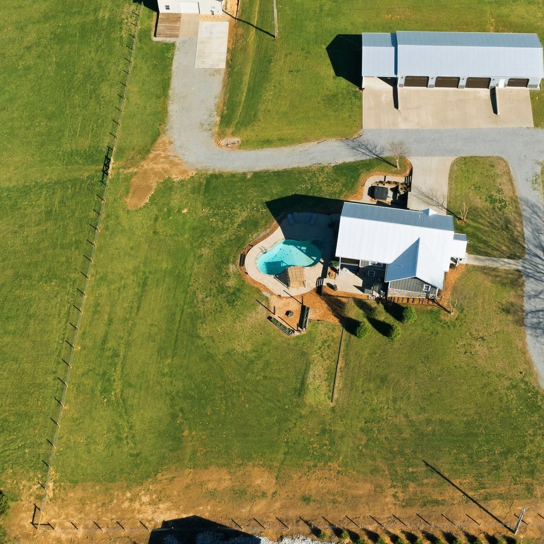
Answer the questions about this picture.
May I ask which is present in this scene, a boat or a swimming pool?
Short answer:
swimming pool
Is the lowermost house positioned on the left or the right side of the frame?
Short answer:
right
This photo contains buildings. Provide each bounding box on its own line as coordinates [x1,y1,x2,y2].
[336,203,467,305]
[158,0,224,16]
[360,31,544,90]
